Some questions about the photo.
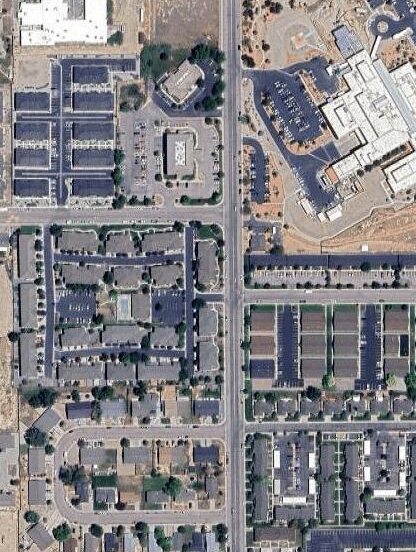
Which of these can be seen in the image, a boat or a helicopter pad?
helicopter pad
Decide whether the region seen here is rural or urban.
urban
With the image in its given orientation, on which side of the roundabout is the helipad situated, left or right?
to the left of it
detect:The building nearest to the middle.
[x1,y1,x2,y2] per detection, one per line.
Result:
[194,241,220,290]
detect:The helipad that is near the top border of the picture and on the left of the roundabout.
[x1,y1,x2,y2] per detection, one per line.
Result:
[266,16,328,68]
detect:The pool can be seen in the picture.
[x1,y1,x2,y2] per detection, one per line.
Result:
[118,293,131,319]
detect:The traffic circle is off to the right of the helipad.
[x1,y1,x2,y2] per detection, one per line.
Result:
[368,11,407,39]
